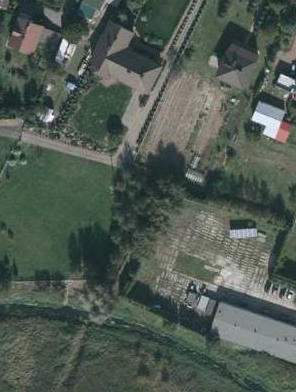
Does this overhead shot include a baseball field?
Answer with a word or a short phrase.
No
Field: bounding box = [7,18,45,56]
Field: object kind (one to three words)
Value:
house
